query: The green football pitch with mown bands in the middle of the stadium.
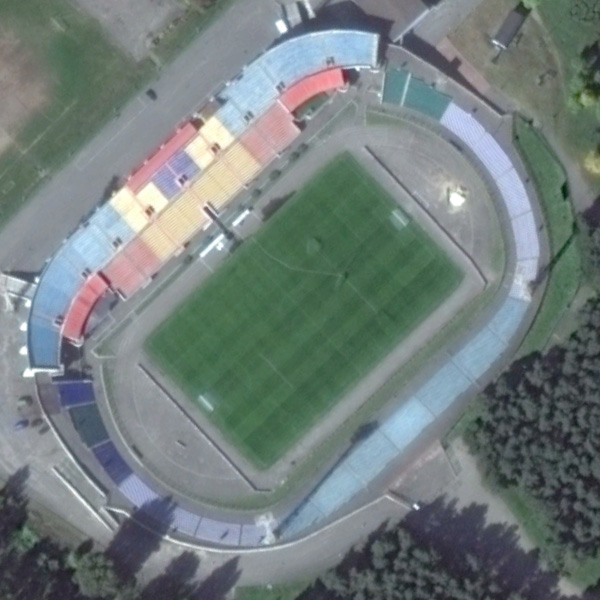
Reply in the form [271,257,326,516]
[142,154,468,468]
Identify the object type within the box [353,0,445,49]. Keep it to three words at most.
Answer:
building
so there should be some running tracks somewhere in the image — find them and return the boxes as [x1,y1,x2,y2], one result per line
[107,118,496,504]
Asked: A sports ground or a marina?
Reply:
sports ground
